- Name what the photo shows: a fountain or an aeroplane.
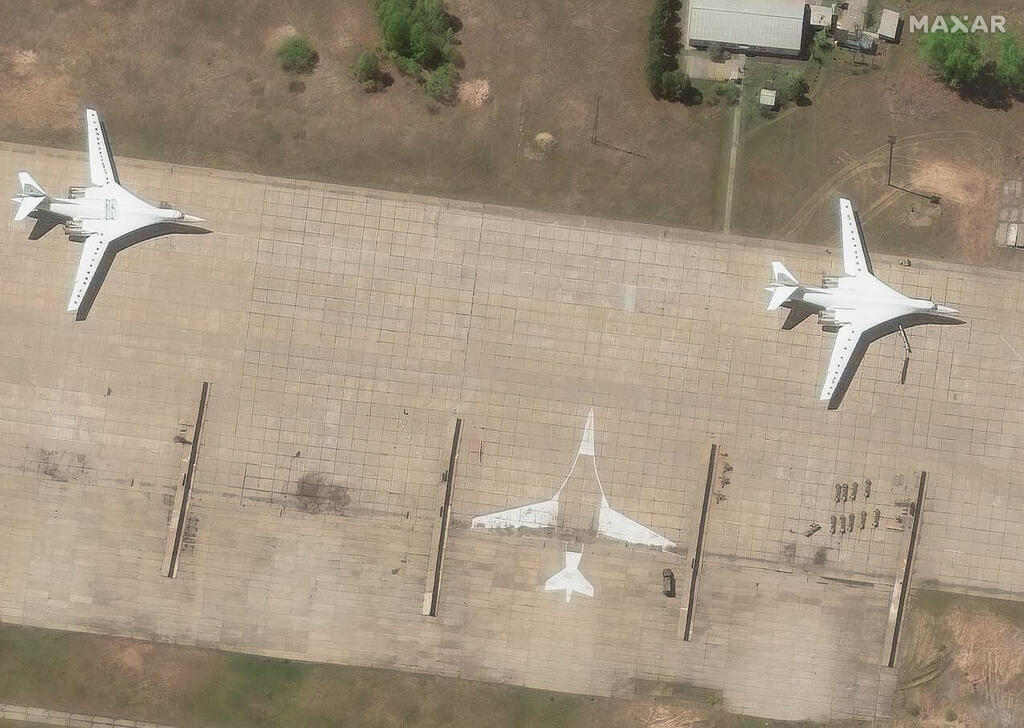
aeroplane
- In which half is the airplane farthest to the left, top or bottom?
top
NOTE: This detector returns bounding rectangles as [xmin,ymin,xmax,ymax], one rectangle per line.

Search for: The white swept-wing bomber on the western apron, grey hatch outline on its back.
[12,108,205,311]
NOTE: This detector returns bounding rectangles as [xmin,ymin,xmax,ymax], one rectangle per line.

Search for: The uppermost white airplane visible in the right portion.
[765,198,959,401]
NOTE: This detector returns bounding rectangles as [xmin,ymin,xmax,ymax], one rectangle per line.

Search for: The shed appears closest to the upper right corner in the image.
[877,9,902,43]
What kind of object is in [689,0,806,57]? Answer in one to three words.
building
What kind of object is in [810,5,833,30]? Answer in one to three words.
shed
